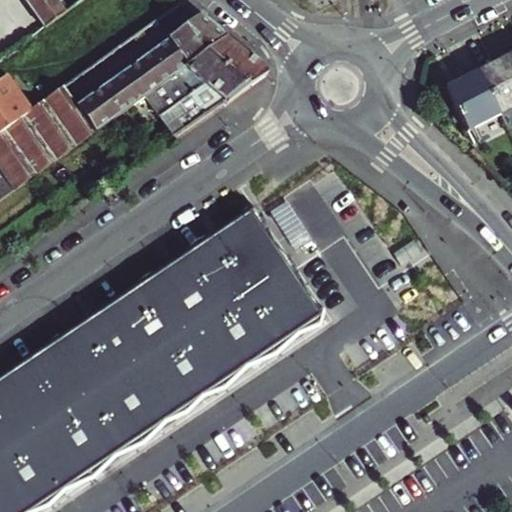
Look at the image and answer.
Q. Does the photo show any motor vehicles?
Yes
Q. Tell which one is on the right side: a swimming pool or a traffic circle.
traffic circle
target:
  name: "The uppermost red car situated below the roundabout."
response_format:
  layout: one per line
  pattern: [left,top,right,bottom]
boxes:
[340,205,358,220]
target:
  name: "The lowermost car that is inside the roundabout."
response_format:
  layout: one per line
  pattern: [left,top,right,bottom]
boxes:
[311,96,326,116]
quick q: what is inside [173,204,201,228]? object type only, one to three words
vehicle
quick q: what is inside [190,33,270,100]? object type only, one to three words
house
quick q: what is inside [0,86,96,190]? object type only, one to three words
building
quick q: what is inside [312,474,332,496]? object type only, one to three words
car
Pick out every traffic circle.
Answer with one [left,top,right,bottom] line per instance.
[280,25,400,145]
